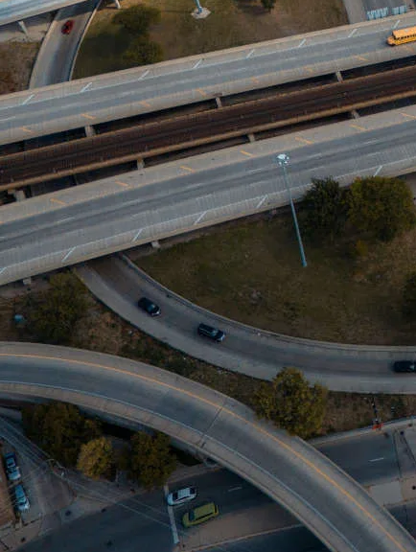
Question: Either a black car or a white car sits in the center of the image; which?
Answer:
black car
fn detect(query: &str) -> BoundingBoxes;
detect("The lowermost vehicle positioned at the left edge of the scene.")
[12,480,30,516]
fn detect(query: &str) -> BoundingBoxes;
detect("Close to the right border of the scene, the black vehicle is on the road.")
[394,360,416,373]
